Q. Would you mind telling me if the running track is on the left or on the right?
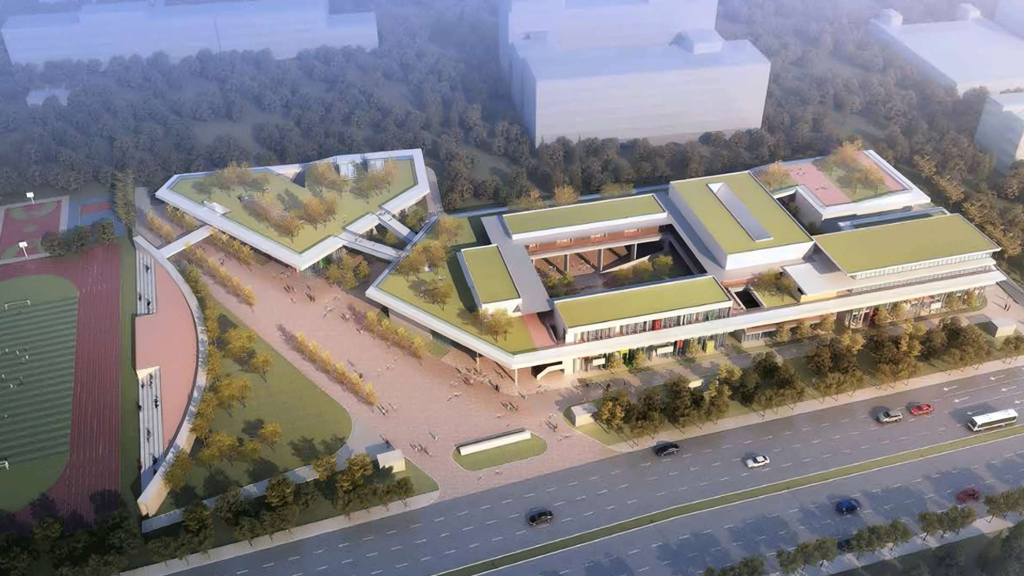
left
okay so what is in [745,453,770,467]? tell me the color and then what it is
white car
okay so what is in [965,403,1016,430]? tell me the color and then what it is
white bus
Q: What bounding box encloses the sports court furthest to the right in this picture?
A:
[68,189,127,242]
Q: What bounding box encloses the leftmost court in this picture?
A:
[0,196,71,264]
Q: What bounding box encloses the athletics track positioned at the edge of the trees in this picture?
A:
[0,240,122,565]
